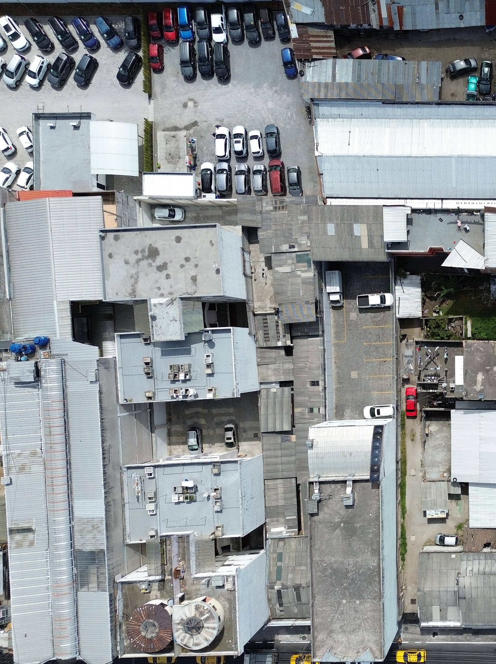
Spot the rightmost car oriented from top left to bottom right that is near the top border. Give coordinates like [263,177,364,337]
[94,14,122,50]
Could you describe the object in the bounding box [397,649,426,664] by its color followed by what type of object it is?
yellow car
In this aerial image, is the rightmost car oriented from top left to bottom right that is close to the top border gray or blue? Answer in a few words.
blue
